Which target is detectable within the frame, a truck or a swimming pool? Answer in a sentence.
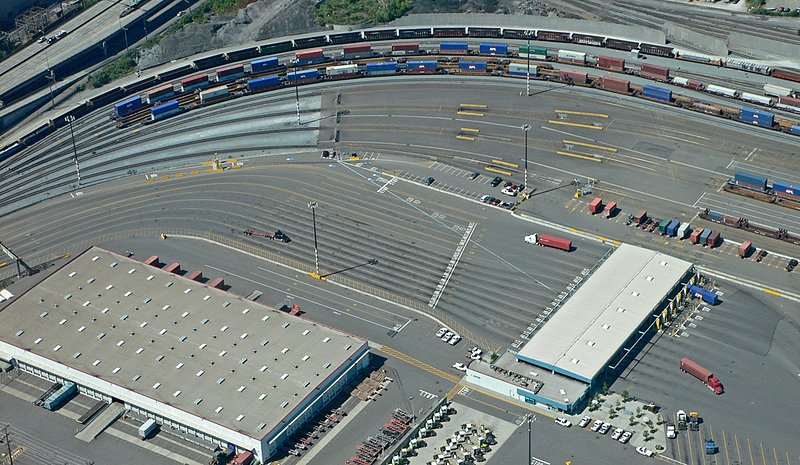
It is a truck that can be seen here.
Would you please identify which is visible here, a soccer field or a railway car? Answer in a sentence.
Visible in the photo is a railway car.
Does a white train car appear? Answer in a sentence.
Yes, a white train car appears in the view.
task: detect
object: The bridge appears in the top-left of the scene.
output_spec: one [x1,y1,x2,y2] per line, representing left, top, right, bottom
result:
[0,0,173,98]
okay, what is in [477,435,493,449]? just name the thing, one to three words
work vehicle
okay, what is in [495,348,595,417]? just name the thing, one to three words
building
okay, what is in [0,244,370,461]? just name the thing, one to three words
warehouse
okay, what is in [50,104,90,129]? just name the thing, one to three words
rail car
